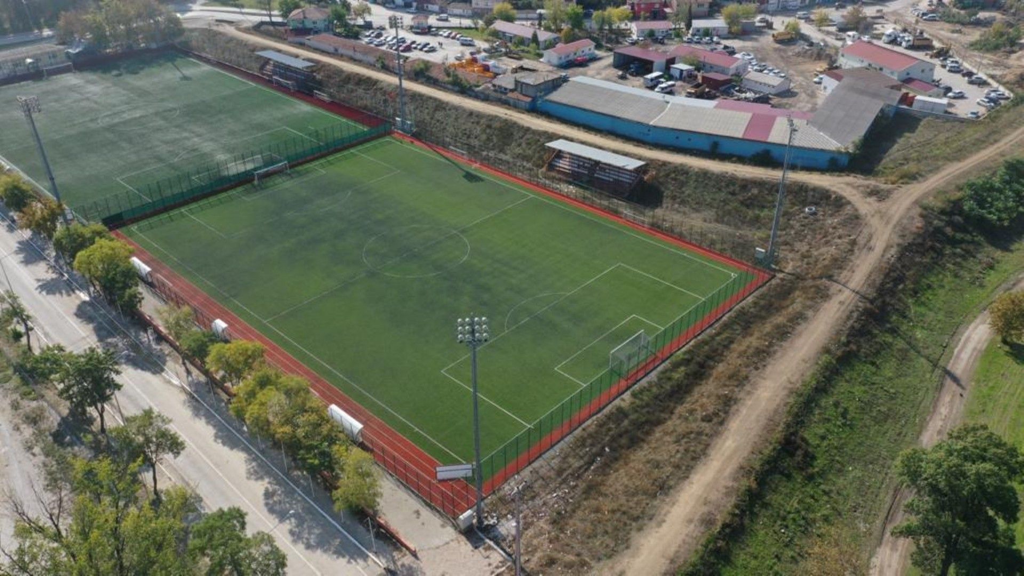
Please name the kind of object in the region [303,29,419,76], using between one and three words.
shed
